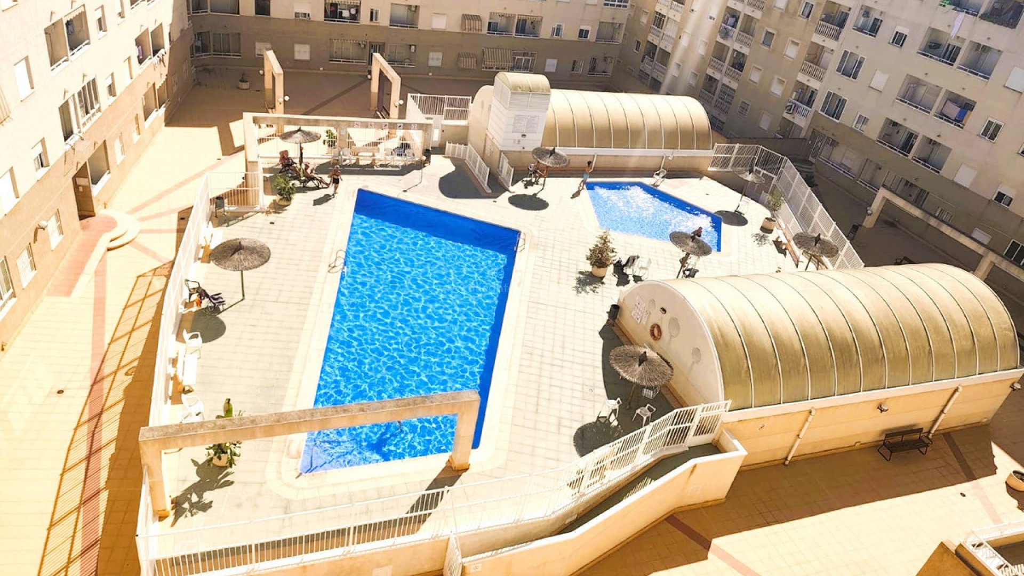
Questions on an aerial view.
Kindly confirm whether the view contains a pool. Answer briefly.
Yes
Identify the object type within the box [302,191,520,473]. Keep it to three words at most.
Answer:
swimming pool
